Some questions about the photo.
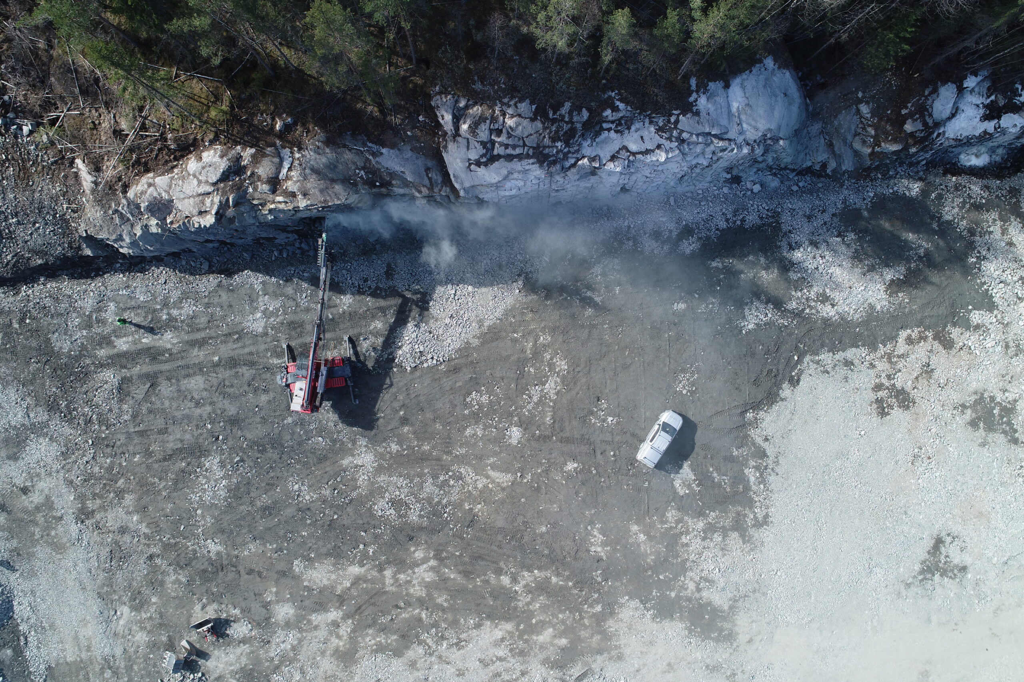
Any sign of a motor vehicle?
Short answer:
Yes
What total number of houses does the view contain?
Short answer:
zero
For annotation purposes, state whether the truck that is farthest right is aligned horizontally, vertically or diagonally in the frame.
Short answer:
diagonally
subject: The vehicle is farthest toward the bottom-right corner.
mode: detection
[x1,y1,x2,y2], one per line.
[635,411,684,470]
